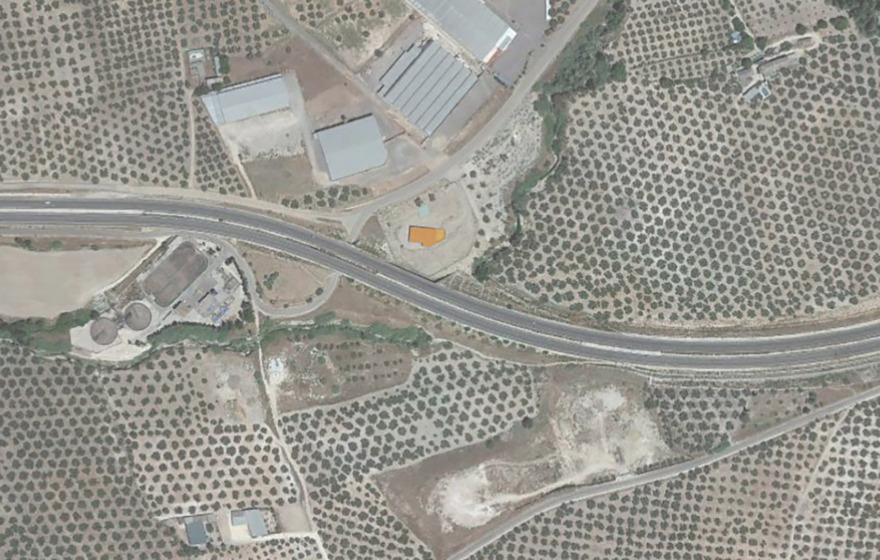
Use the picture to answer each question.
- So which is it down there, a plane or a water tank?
water tank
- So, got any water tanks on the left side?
Yes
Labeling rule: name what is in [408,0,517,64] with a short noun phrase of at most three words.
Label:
building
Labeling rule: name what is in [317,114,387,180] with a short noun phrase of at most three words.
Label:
building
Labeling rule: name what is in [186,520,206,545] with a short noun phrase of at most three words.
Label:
shed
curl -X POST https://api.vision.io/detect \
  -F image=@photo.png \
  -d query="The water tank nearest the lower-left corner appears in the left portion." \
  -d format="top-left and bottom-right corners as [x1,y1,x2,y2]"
[90,318,118,344]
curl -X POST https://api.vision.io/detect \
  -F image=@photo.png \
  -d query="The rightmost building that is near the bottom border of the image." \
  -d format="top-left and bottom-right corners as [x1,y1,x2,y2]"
[245,508,268,538]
